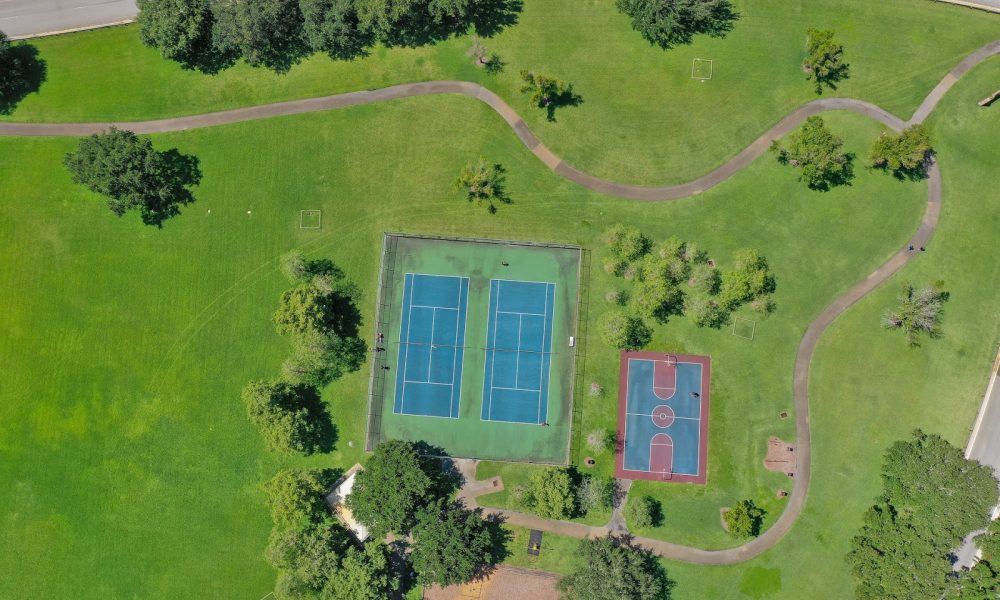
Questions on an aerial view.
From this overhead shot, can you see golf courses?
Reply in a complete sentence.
No, there's no golf course here.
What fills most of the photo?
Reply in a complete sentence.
The largest share of the image is taken up by grass.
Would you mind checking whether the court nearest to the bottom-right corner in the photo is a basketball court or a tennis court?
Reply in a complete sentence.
Looking closely, the court nearest to the bottom-right corner is a basketball court.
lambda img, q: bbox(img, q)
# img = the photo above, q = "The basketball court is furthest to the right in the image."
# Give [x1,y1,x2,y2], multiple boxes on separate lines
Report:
[615,351,710,485]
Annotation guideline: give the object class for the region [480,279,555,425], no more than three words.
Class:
tennis court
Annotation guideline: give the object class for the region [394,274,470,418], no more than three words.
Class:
tennis court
